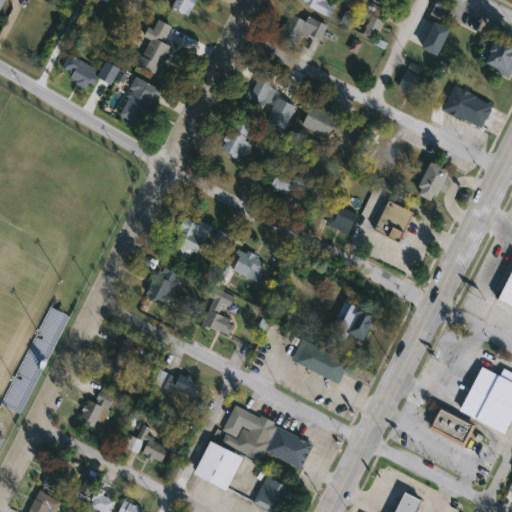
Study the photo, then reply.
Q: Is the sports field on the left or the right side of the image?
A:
left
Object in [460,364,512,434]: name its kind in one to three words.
building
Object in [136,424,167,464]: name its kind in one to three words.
house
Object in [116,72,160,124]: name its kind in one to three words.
house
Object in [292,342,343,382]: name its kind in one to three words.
building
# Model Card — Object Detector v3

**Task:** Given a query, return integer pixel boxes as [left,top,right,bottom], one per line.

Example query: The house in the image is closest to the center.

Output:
[232,250,266,282]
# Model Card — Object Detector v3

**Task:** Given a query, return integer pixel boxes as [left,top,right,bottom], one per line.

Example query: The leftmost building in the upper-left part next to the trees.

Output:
[62,53,99,89]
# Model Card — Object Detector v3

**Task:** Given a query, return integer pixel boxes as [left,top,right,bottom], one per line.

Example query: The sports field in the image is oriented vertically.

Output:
[0,214,64,373]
